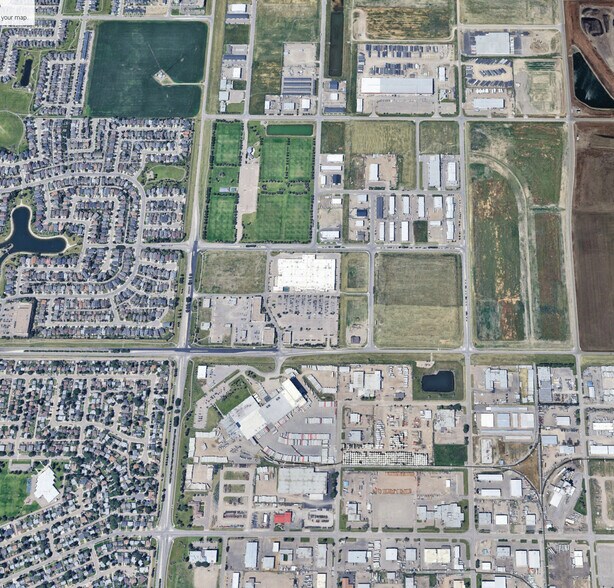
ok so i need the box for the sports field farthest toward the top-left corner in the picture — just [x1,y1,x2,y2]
[212,122,240,164]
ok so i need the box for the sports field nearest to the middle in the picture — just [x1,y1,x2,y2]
[256,196,314,240]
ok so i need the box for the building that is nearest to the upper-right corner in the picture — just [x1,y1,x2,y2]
[474,32,510,56]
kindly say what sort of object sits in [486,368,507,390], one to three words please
building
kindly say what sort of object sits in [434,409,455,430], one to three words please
building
